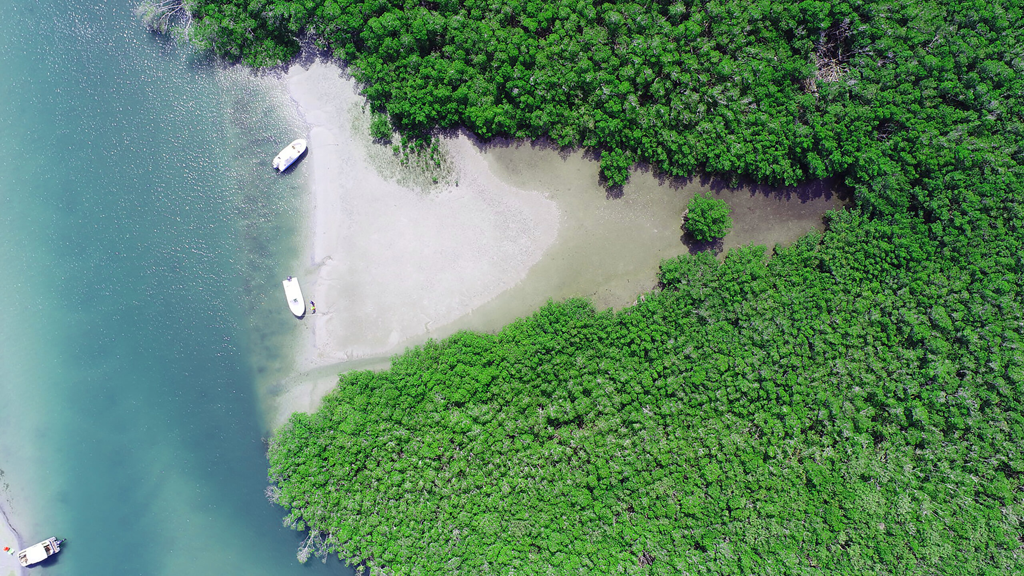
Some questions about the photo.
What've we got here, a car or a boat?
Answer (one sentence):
The one in the frame is a boat.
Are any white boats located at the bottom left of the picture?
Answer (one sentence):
Yes, a white boat shows up at the bottom left of the picture.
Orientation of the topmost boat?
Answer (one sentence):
I'd say the topmost boat is aligned on a diagonal in the picture.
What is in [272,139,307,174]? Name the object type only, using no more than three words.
boat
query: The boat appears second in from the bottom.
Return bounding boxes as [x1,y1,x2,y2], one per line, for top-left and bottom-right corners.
[284,277,305,316]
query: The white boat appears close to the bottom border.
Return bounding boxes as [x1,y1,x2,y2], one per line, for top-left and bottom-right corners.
[19,535,65,565]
